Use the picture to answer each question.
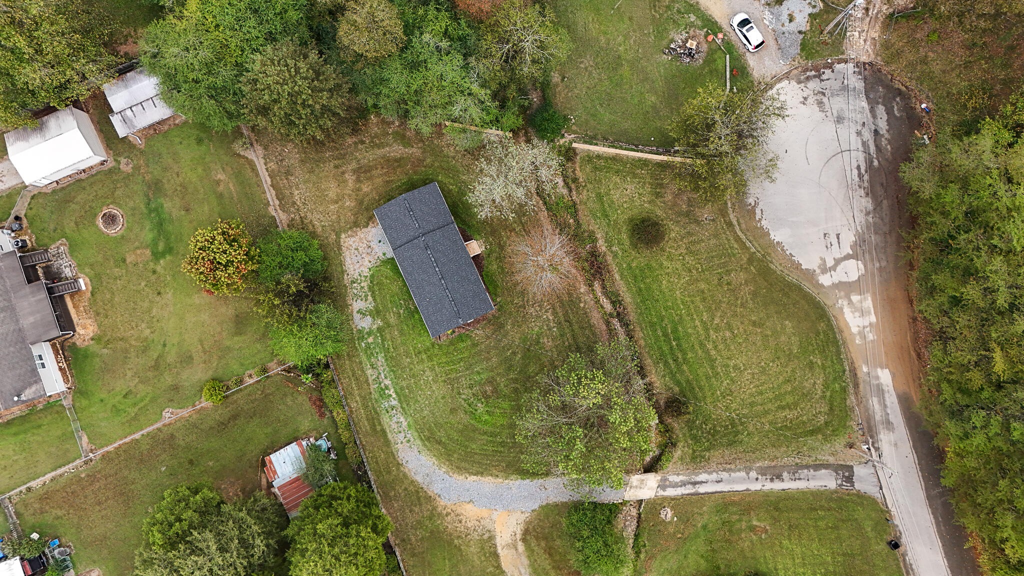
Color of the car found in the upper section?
white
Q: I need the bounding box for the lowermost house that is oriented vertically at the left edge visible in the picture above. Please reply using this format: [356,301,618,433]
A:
[0,219,86,412]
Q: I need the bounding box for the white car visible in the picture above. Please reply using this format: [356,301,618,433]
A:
[731,9,769,52]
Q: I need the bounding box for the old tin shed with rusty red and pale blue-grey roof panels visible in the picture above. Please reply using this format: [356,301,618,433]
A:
[260,440,317,520]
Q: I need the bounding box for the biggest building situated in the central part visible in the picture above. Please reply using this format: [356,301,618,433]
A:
[373,182,499,342]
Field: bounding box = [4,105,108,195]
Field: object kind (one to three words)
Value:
building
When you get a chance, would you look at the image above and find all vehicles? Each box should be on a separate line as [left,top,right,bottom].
[731,9,769,52]
[20,554,53,576]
